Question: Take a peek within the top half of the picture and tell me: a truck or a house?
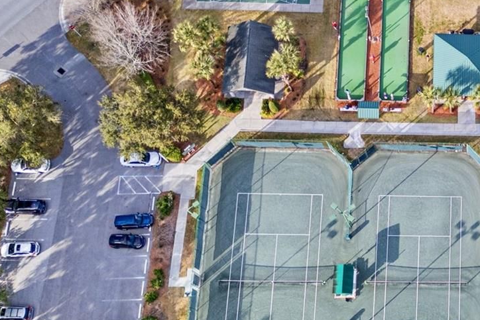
house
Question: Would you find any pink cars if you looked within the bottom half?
No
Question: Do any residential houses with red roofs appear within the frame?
No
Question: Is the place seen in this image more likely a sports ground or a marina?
sports ground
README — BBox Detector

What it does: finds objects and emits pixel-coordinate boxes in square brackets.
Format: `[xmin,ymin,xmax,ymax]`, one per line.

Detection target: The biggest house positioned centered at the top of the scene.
[225,21,276,100]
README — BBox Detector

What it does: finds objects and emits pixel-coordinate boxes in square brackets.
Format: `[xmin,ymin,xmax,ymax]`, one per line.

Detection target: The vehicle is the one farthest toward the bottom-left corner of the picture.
[0,304,34,320]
